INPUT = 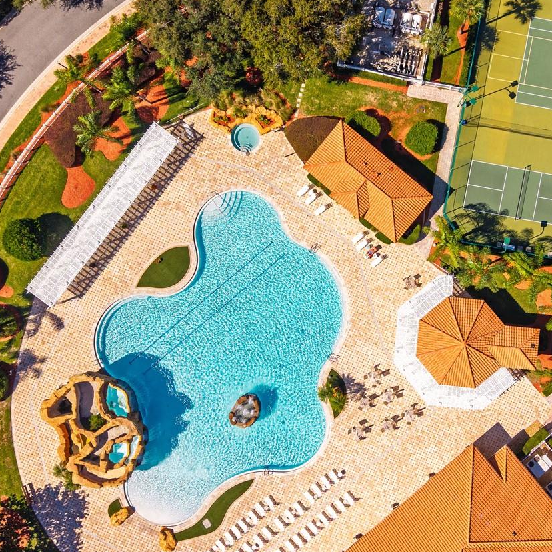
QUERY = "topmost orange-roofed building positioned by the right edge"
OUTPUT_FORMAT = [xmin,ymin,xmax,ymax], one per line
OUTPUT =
[416,296,541,388]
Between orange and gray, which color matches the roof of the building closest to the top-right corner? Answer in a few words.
orange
